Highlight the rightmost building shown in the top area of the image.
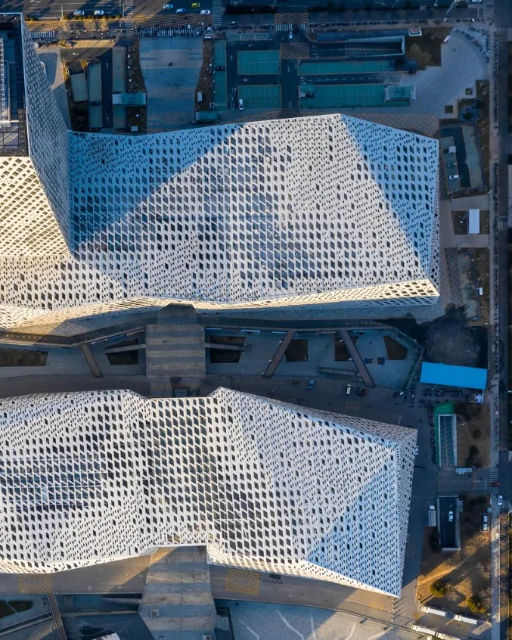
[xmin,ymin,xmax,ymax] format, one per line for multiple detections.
[467,208,480,235]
